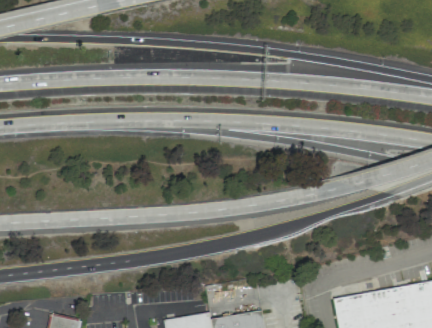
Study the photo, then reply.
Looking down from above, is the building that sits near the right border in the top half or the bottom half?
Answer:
bottom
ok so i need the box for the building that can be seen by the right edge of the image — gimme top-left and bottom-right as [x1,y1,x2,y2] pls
[334,280,432,328]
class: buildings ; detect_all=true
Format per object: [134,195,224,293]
[334,280,432,328]
[50,314,82,328]
[212,312,262,328]
[164,313,211,328]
